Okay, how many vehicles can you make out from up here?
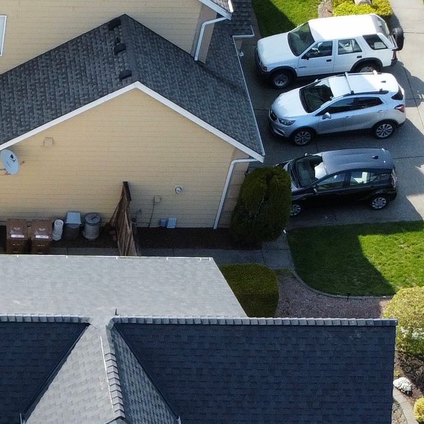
three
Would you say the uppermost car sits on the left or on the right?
right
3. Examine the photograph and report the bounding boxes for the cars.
[243,3,403,89]
[267,65,415,147]
[266,143,407,218]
